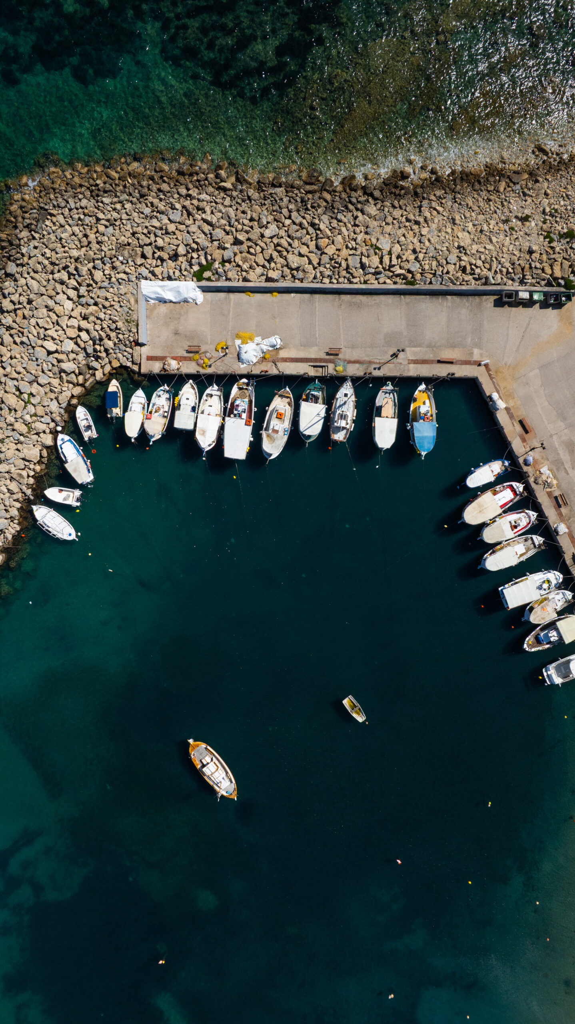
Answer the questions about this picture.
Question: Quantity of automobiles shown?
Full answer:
There are no automobiles in the image.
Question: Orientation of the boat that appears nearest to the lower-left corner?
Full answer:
In this picture, the boat that appears nearest to the lower-left corner is oriented at an angle.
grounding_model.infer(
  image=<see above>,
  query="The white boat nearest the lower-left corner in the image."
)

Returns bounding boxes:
[187,738,238,802]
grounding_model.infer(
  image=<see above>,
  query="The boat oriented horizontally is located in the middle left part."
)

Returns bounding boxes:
[44,487,88,507]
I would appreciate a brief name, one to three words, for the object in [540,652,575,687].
boat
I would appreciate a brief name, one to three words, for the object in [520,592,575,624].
boat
